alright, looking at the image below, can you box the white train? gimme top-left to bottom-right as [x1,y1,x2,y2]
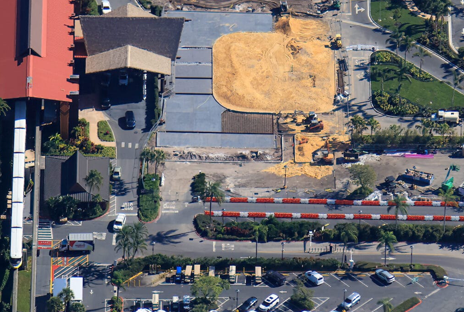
[9,101,26,276]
